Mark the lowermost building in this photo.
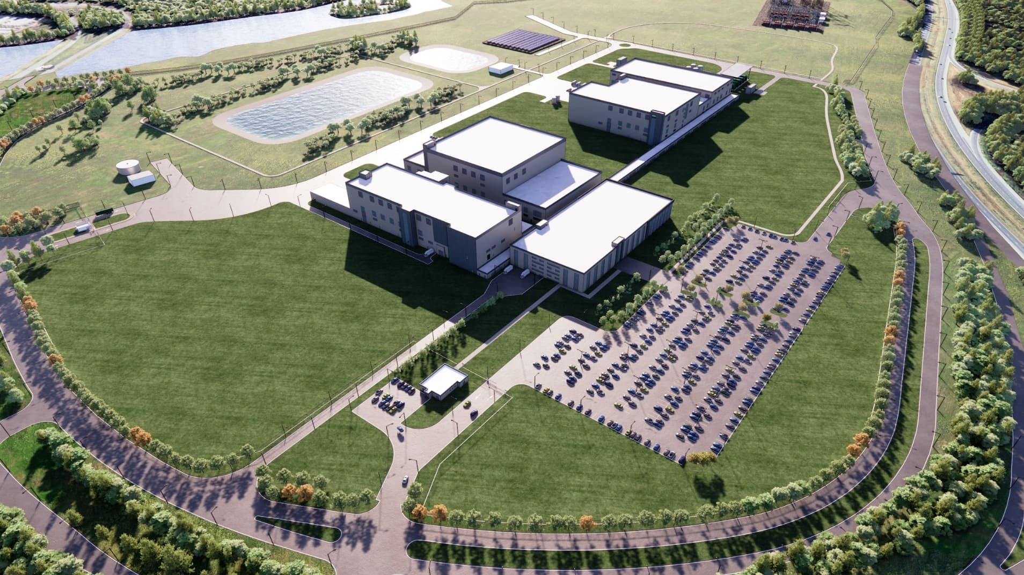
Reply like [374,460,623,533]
[419,364,469,401]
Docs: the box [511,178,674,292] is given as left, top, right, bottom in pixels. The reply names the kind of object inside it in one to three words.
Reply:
building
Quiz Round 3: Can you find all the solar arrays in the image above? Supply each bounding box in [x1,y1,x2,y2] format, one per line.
[482,28,564,53]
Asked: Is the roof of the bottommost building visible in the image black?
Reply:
No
